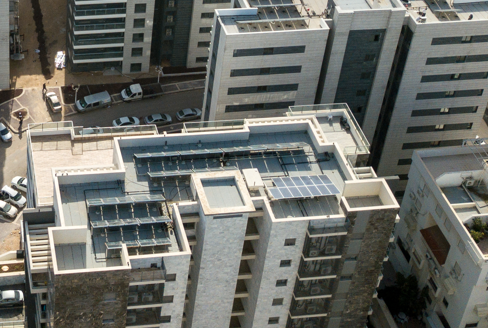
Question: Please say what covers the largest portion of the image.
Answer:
buildings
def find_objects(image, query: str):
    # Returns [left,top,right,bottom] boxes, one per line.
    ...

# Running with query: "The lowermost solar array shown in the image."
[102,233,172,248]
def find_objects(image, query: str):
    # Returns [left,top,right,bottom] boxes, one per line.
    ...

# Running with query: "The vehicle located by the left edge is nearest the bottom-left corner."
[0,289,24,307]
